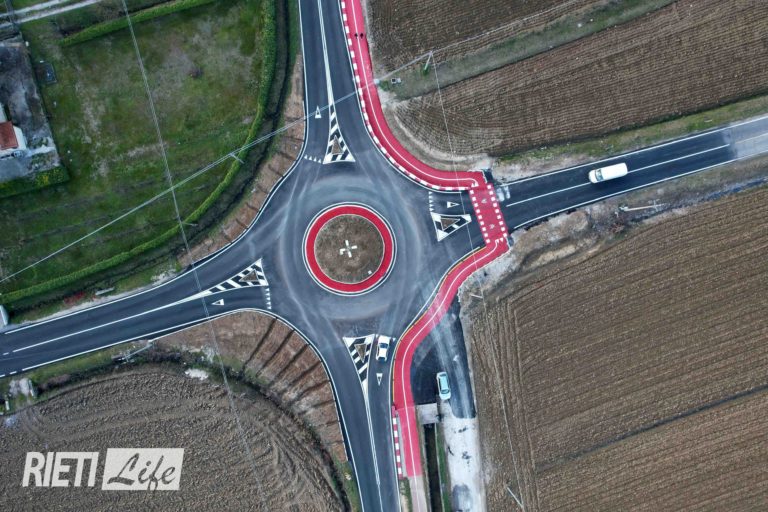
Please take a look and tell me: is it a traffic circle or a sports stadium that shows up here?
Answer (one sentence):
The image shows a traffic circle.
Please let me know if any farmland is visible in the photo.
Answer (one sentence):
Yes, farmland shows up in the scene.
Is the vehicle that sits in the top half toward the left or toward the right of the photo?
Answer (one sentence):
The vehicle that sits in the top half sits on the right side.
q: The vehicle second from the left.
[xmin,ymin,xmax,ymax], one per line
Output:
[437,373,452,399]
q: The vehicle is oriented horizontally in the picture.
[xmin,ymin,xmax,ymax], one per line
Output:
[589,162,631,183]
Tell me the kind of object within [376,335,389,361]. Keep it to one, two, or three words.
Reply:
vehicle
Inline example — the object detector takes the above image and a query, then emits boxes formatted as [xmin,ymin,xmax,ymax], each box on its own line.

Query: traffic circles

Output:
[152,102,479,459]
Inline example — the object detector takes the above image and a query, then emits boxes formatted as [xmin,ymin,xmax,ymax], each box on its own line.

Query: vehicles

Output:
[589,162,631,183]
[437,373,452,399]
[376,335,389,361]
